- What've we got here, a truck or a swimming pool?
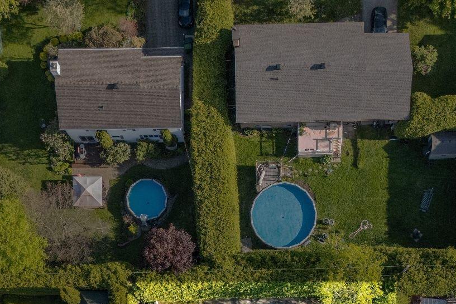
swimming pool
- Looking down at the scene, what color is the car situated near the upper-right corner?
black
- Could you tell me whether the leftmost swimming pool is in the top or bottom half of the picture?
bottom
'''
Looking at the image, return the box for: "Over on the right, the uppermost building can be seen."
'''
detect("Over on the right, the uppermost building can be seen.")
[230,21,412,130]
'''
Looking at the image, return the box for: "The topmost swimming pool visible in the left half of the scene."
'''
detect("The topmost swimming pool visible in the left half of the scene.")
[126,178,168,226]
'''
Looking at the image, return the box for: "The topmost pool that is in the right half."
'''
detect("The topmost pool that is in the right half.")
[250,183,317,250]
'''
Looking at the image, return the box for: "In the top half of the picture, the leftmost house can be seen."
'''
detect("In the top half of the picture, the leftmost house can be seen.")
[48,47,184,141]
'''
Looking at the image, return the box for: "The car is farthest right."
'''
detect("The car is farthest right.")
[367,0,392,32]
